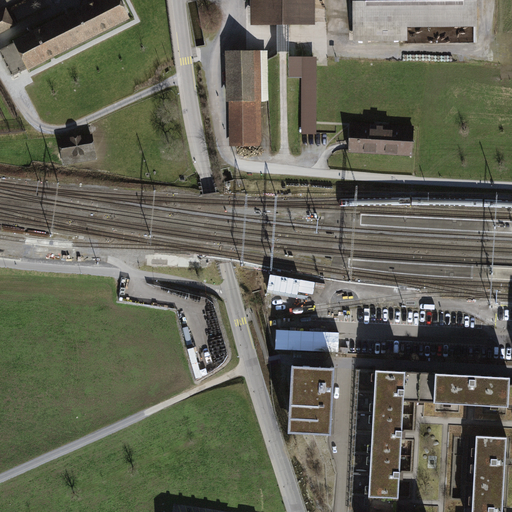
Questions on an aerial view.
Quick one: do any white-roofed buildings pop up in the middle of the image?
Yes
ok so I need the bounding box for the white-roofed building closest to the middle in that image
[268,275,314,300]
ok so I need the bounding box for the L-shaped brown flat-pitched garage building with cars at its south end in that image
[288,57,316,134]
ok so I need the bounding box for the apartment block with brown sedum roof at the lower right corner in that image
[468,434,507,512]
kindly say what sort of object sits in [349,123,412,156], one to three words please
house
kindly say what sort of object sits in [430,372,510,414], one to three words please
building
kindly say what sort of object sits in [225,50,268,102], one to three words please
barn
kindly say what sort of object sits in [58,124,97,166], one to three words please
house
